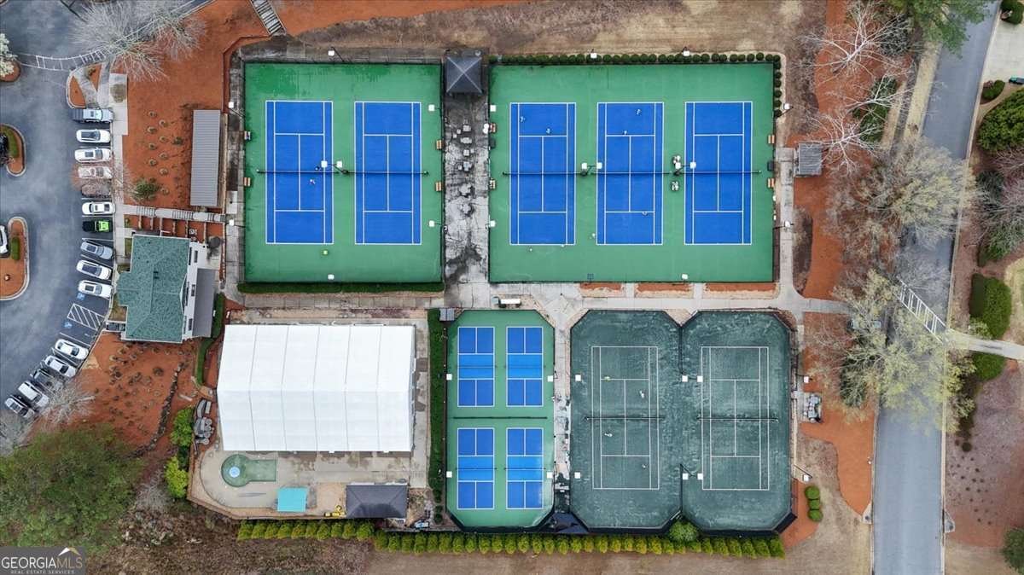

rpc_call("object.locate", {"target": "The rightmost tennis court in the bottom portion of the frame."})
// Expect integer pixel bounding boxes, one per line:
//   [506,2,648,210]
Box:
[681,312,792,529]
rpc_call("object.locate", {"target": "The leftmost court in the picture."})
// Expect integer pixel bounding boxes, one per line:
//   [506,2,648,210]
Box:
[245,64,344,282]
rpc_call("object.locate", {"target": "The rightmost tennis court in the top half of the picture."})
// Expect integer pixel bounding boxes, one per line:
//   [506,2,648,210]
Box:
[674,65,773,282]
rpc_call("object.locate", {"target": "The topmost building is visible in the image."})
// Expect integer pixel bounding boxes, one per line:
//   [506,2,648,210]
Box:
[446,52,483,96]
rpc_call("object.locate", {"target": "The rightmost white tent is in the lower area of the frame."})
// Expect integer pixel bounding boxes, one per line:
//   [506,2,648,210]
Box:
[215,323,418,451]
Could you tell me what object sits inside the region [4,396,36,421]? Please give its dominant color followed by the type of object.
gray car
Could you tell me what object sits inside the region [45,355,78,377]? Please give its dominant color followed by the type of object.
white car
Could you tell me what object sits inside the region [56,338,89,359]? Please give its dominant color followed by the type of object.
white car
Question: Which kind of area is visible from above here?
sports ground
